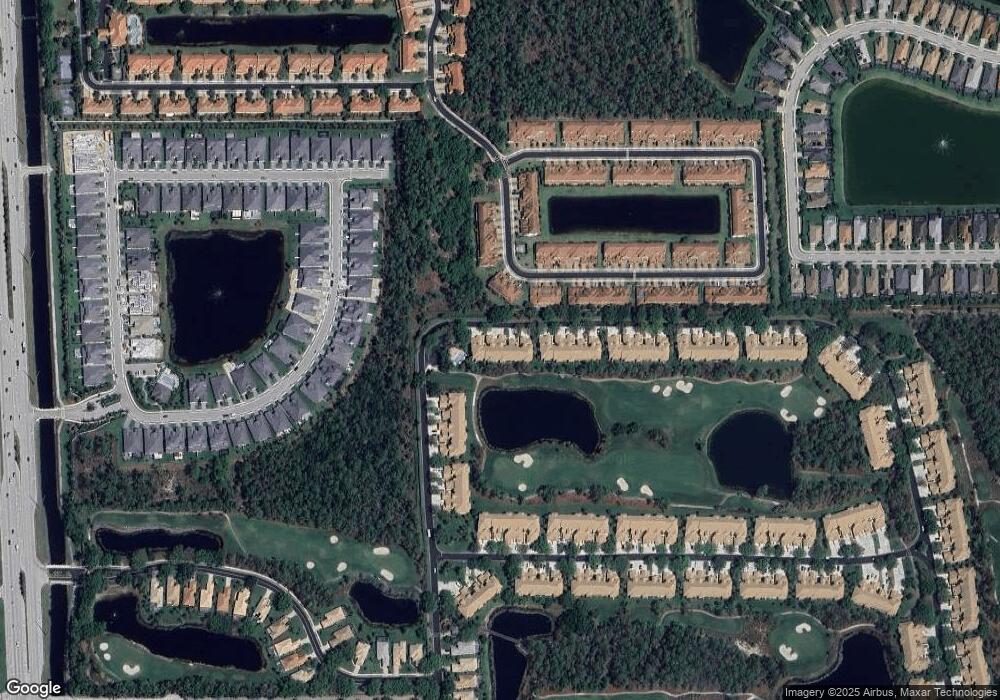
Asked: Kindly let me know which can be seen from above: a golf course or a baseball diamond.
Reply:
golf course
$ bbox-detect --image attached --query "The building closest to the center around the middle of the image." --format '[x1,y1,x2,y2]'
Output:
[471,336,532,363]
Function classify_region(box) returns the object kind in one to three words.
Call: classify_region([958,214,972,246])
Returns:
house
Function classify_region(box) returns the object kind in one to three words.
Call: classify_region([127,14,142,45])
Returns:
swimming pool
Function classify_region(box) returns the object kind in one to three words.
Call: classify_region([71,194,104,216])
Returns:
house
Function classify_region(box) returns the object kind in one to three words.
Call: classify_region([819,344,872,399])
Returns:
building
